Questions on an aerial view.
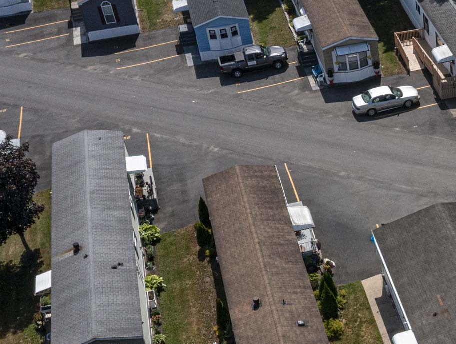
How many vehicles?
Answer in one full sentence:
The number of vehicles here is 2.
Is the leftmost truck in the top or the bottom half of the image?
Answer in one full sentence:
The top half of the photo is where the leftmost truck is.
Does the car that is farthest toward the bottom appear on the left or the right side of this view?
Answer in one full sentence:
The car that is farthest toward the bottom appears in the right half of the scene.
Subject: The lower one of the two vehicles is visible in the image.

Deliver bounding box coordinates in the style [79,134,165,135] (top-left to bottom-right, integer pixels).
[349,83,420,115]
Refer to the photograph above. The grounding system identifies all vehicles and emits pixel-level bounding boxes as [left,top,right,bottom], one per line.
[349,83,420,115]
[219,41,291,75]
